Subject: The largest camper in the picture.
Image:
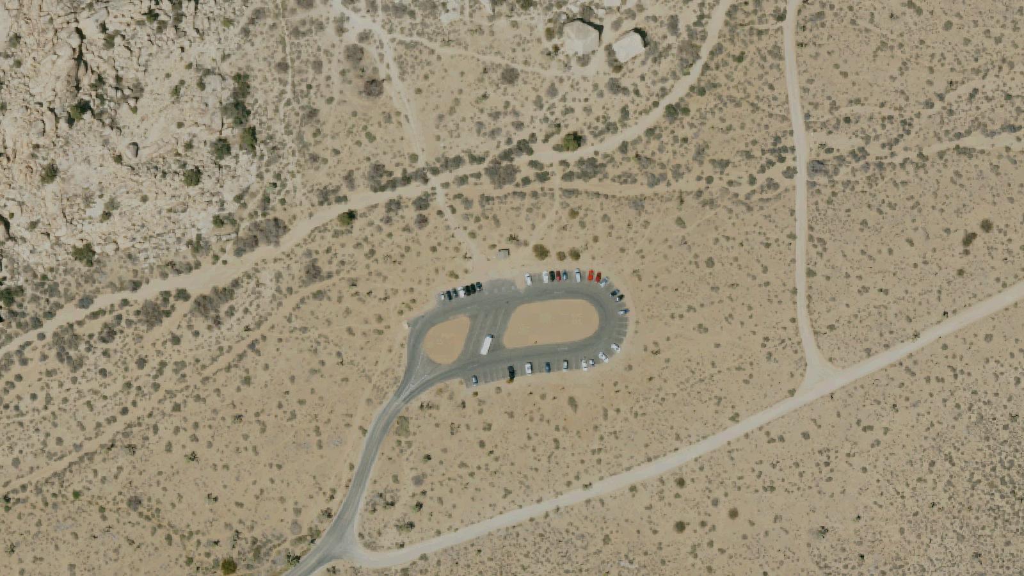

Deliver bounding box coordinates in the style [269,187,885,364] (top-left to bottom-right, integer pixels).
[480,335,494,355]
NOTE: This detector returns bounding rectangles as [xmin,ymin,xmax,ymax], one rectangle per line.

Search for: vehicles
[445,290,453,301]
[556,270,561,281]
[599,276,609,287]
[458,287,465,299]
[575,268,581,283]
[477,282,482,291]
[464,285,471,296]
[598,351,609,363]
[545,362,550,372]
[470,283,476,294]
[615,294,625,302]
[526,362,532,375]
[451,288,459,298]
[610,288,620,297]
[589,358,594,366]
[480,335,494,355]
[550,270,555,281]
[588,269,594,281]
[618,308,630,314]
[440,291,446,301]
[595,272,602,283]
[525,273,532,286]
[609,342,620,353]
[563,360,568,371]
[473,375,478,385]
[543,270,548,283]
[580,359,588,372]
